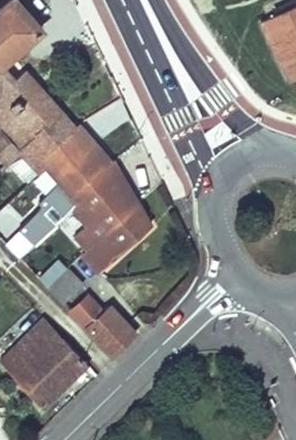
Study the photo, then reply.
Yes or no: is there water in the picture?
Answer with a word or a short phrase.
No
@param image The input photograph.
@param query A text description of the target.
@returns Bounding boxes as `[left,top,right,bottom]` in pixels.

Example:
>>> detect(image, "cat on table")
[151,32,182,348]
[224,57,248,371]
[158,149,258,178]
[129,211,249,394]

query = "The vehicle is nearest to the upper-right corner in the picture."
[162,70,178,91]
